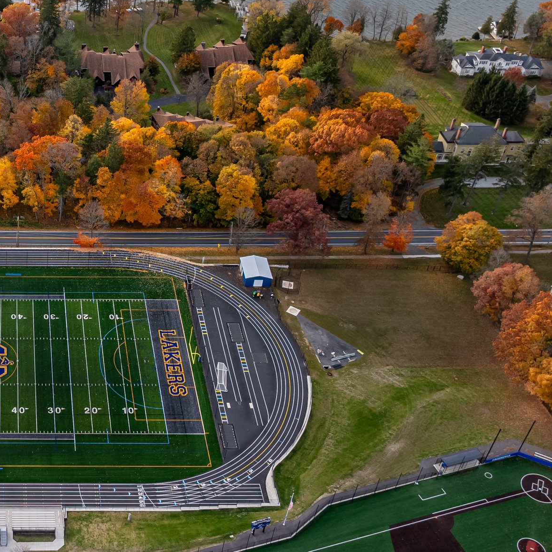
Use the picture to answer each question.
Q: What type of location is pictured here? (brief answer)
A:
sports ground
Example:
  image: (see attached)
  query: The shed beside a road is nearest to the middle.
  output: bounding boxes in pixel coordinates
[239,254,274,286]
